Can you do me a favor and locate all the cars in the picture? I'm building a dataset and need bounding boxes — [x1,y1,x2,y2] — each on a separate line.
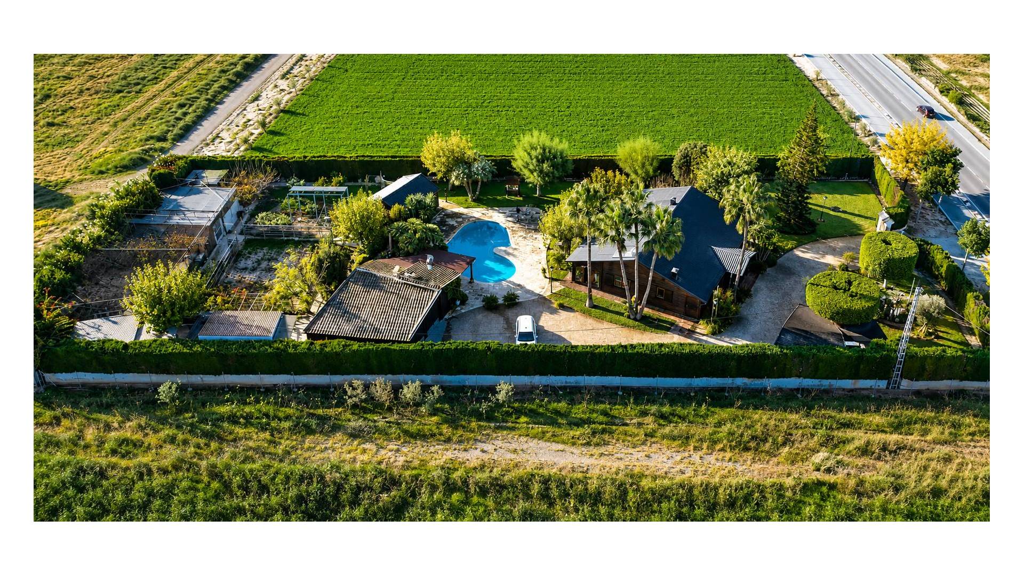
[913,106,938,122]
[514,316,539,347]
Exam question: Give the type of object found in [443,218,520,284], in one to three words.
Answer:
swimming pool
